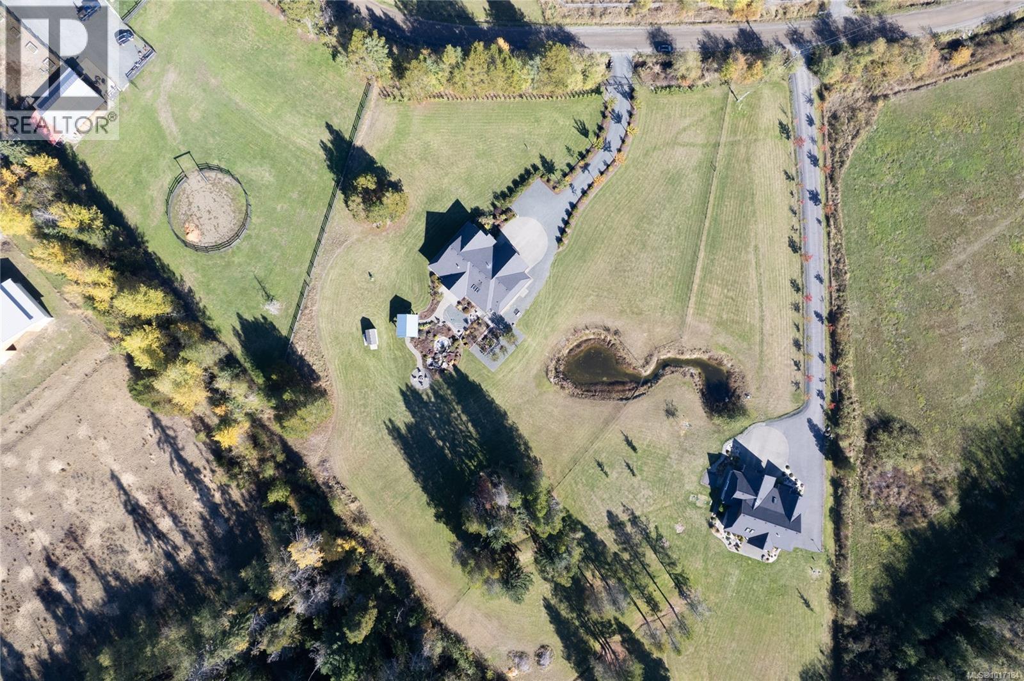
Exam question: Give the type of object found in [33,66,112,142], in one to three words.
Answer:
barn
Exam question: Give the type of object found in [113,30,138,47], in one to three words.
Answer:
car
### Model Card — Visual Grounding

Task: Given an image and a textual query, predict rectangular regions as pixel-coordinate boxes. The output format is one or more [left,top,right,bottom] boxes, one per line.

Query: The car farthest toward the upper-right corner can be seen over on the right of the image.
[654,41,674,53]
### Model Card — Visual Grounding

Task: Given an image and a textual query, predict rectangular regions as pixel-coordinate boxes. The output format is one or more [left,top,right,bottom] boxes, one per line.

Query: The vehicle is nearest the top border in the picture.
[76,0,104,22]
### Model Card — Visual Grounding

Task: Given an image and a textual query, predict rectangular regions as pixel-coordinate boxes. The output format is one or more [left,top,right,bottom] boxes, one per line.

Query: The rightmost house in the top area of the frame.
[428,221,533,316]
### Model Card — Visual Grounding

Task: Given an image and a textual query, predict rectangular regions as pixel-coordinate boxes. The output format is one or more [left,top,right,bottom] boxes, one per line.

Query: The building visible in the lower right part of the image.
[723,468,809,552]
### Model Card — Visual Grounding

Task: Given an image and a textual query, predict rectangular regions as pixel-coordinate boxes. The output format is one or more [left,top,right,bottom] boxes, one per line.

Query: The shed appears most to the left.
[0,278,51,358]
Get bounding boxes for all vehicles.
[76,0,104,22]
[654,41,674,53]
[113,30,138,47]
